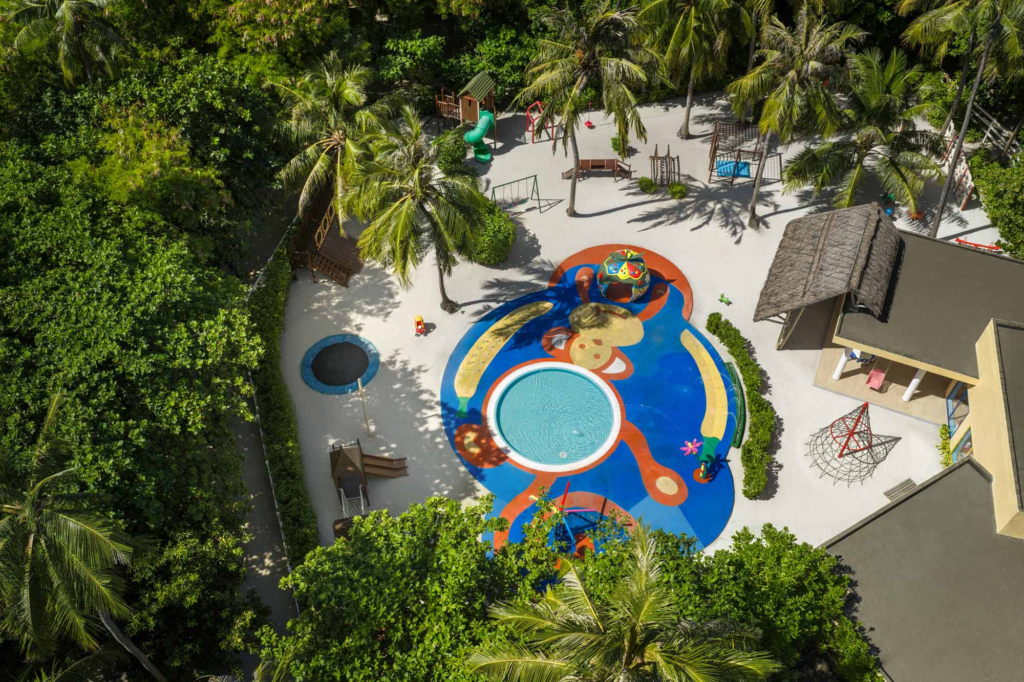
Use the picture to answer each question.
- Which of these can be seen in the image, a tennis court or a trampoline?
trampoline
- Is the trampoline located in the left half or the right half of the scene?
left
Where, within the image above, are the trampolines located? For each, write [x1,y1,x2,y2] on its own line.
[301,334,379,398]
